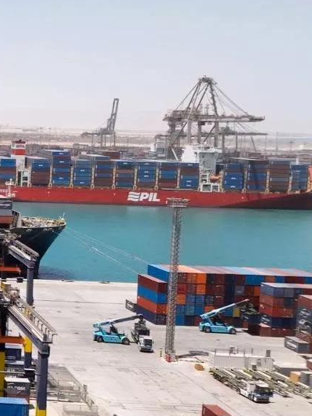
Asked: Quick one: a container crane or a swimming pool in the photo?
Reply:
container crane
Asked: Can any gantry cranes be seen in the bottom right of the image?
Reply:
No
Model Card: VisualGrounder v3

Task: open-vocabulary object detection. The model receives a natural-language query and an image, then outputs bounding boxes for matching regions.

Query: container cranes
[167,99,262,164]
[163,78,271,164]
[82,103,118,153]
[0,232,42,390]
[0,285,60,416]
